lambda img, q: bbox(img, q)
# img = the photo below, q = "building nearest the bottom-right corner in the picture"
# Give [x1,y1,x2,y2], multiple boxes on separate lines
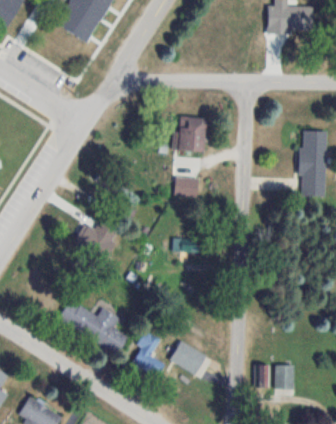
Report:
[274,366,296,390]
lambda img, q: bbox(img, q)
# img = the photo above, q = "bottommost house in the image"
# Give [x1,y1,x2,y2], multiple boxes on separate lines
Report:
[20,398,62,424]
